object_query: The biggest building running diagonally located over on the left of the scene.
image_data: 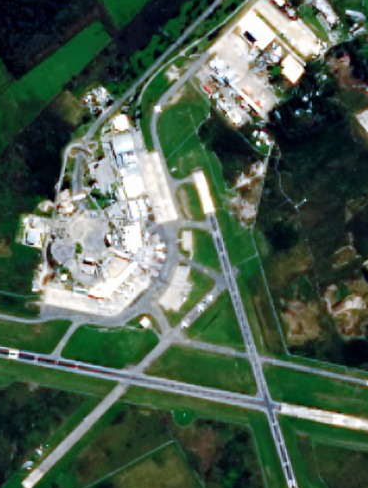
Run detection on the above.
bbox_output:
[86,260,139,299]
